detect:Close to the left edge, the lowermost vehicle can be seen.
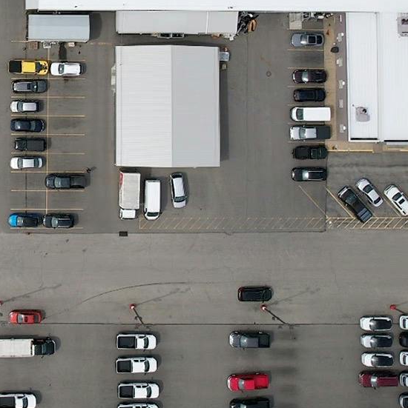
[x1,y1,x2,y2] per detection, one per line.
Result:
[0,392,36,408]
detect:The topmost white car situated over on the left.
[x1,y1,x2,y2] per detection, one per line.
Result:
[49,61,82,76]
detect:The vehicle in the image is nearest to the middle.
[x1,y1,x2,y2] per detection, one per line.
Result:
[169,172,186,208]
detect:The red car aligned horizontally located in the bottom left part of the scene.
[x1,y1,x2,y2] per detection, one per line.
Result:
[9,310,42,324]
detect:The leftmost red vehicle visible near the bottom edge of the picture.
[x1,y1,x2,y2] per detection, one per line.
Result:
[226,373,270,393]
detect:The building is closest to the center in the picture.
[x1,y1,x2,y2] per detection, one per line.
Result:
[113,45,220,165]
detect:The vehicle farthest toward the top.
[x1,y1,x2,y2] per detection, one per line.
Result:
[290,32,324,47]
